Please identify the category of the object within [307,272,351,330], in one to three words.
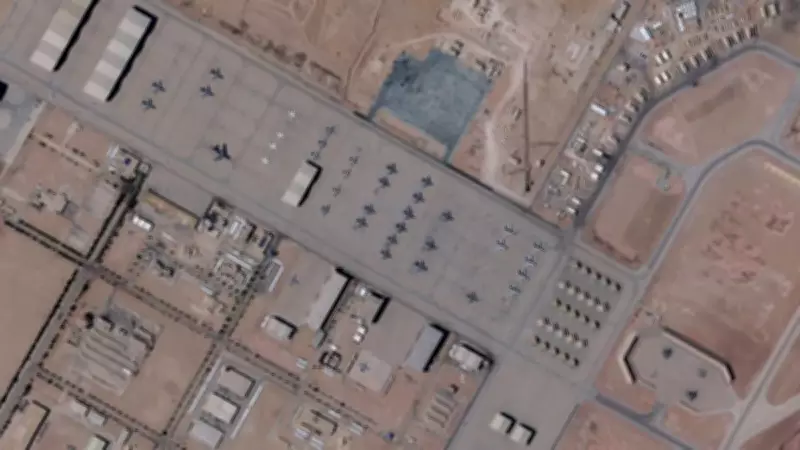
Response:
hangar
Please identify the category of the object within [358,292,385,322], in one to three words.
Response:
hangar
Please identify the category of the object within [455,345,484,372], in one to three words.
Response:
building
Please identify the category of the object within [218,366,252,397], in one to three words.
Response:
building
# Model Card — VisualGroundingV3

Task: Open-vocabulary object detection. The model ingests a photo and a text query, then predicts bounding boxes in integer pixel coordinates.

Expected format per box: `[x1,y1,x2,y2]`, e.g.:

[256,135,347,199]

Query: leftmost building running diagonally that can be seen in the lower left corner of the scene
[3,402,49,450]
